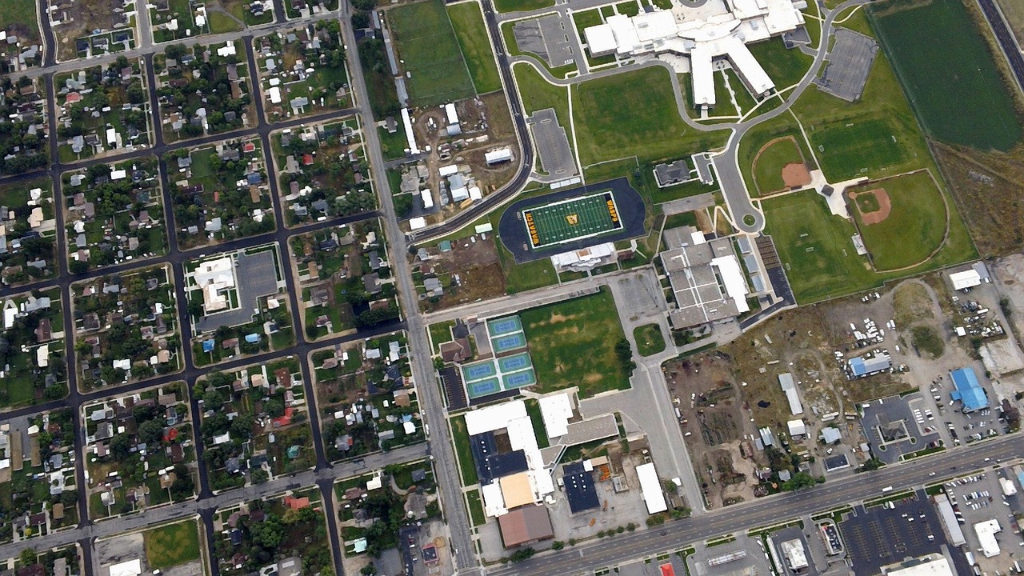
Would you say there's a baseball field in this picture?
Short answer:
Yes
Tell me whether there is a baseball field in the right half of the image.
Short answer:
Yes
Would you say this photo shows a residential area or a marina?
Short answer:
residential area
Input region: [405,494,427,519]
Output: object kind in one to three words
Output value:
house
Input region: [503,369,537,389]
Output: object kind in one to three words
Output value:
tennis court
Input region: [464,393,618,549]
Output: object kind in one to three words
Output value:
building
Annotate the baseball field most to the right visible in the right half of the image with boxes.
[842,168,950,273]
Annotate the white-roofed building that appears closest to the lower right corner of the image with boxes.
[972,519,1001,558]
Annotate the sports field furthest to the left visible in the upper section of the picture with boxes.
[499,177,645,264]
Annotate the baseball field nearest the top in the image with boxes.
[753,135,812,196]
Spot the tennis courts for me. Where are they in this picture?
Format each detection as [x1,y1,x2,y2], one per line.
[492,332,527,352]
[463,360,496,381]
[467,377,501,398]
[488,315,522,337]
[499,352,533,373]
[503,369,537,389]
